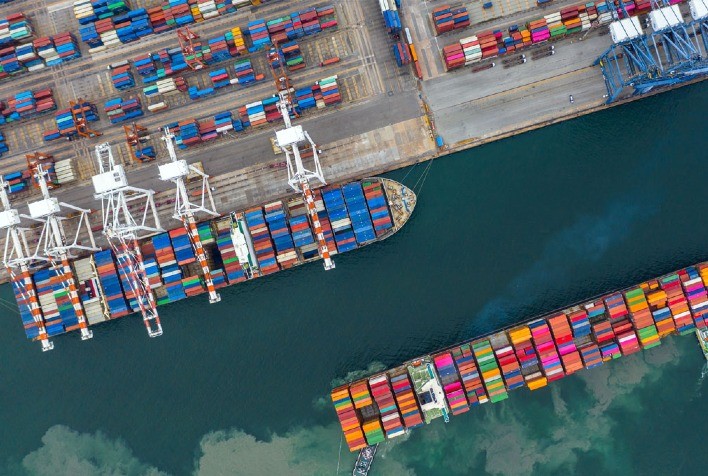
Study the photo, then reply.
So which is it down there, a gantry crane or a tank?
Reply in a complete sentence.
This aerial view contains a gantry crane.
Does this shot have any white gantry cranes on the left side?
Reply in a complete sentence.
Yes, a white gantry crane is visible on the left side.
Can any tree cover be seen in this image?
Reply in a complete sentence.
No, no tree cover is visible.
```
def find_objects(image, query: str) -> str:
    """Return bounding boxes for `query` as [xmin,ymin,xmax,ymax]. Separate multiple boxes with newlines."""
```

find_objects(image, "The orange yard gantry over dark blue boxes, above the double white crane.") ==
[69,99,106,143]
